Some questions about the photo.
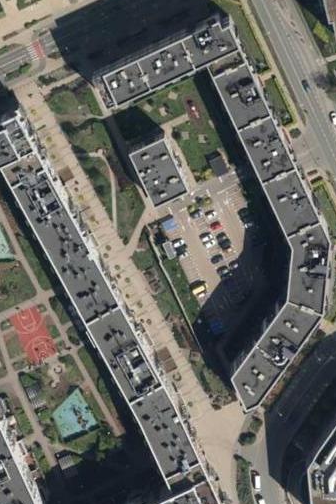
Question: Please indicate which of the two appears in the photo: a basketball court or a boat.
basketball court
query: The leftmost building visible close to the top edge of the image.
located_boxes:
[103,12,245,105]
